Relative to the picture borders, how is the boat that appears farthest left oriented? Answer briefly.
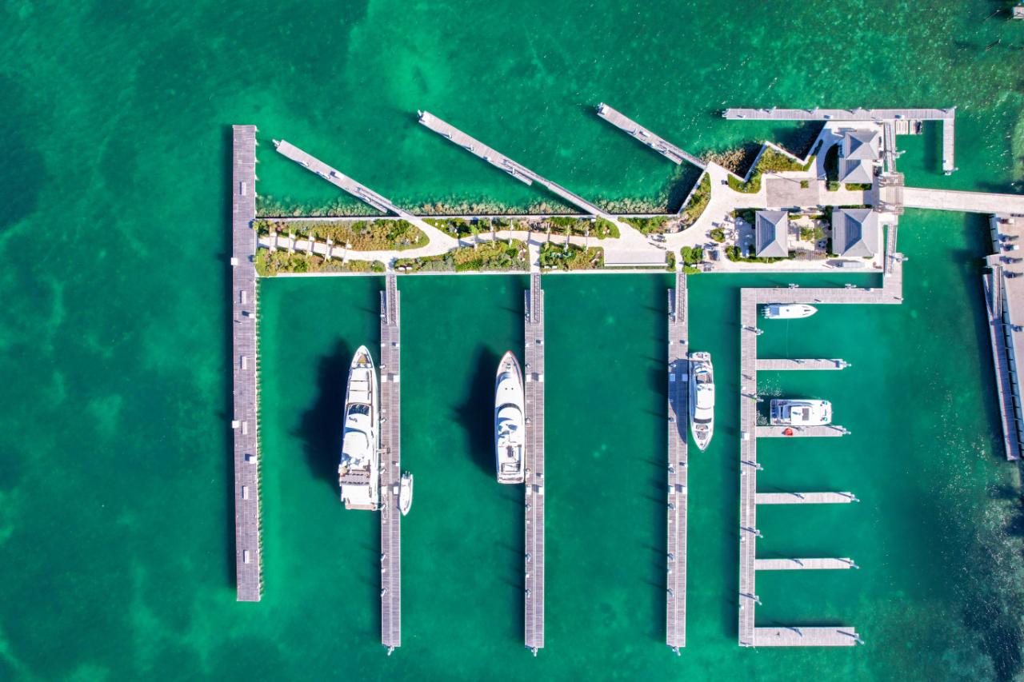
from top to bottom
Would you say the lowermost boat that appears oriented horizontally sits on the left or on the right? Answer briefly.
right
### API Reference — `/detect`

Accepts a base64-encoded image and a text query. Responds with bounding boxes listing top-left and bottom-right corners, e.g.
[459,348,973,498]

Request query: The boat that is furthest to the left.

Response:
[338,345,385,508]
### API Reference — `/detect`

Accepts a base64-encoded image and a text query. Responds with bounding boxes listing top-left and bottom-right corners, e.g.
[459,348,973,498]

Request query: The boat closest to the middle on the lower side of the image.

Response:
[494,351,528,483]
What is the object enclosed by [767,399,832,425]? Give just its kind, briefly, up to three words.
boat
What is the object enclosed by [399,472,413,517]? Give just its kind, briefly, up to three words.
boat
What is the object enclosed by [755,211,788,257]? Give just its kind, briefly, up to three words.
building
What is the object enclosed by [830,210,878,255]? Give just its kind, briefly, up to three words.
building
